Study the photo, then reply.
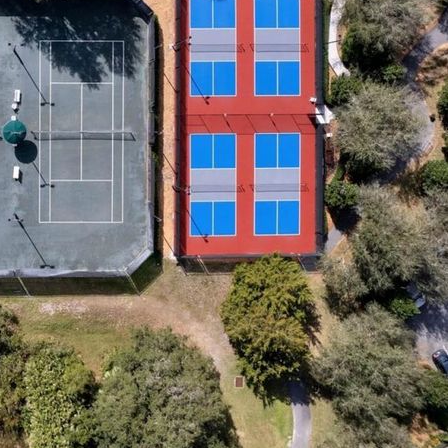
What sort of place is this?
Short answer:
sports ground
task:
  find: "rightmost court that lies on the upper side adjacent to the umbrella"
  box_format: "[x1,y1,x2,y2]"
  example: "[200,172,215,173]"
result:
[15,0,149,271]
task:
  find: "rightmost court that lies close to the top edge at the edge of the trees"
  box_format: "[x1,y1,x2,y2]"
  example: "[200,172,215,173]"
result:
[245,0,315,114]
